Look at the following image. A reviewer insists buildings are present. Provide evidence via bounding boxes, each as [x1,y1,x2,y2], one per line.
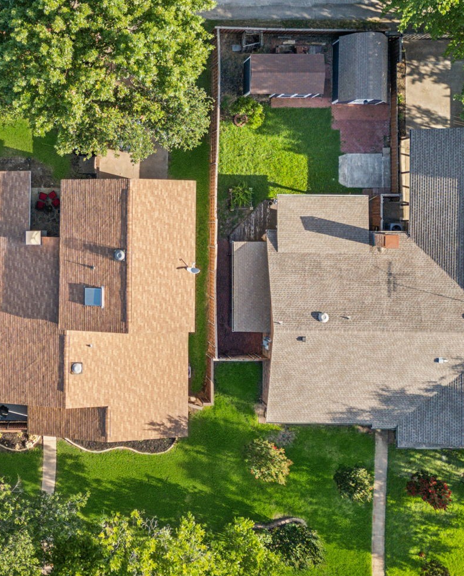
[330,33,395,107]
[243,53,326,100]
[0,172,195,441]
[232,129,464,447]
